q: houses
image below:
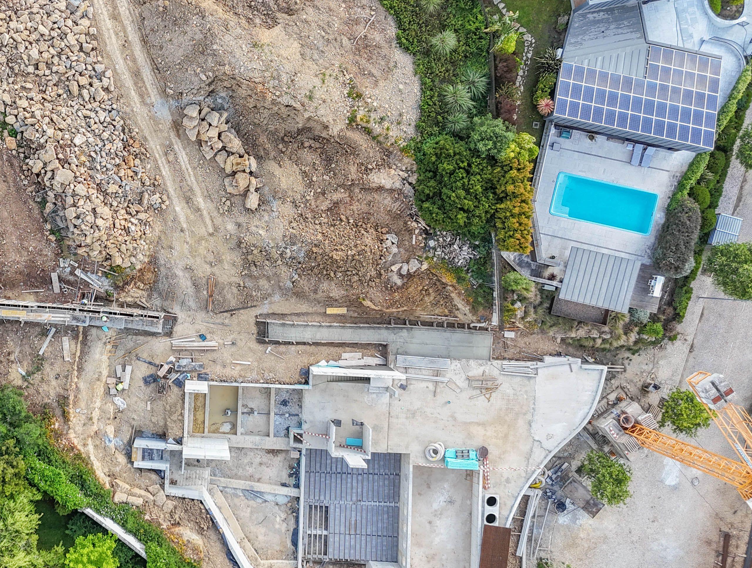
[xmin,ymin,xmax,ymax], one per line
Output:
[545,0,752,152]
[132,357,607,568]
